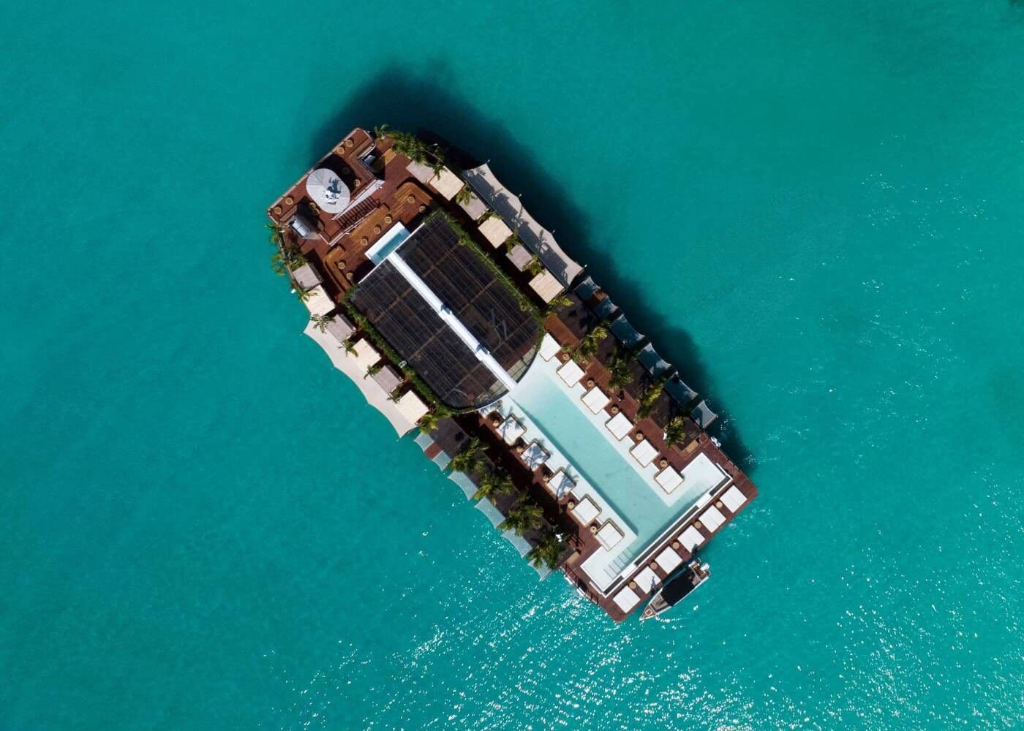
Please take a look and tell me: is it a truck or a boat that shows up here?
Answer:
boat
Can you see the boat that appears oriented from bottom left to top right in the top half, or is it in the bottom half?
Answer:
bottom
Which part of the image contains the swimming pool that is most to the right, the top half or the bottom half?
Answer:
bottom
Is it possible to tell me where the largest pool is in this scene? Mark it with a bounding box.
[492,354,732,597]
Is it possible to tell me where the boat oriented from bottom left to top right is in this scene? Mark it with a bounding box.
[640,559,712,623]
